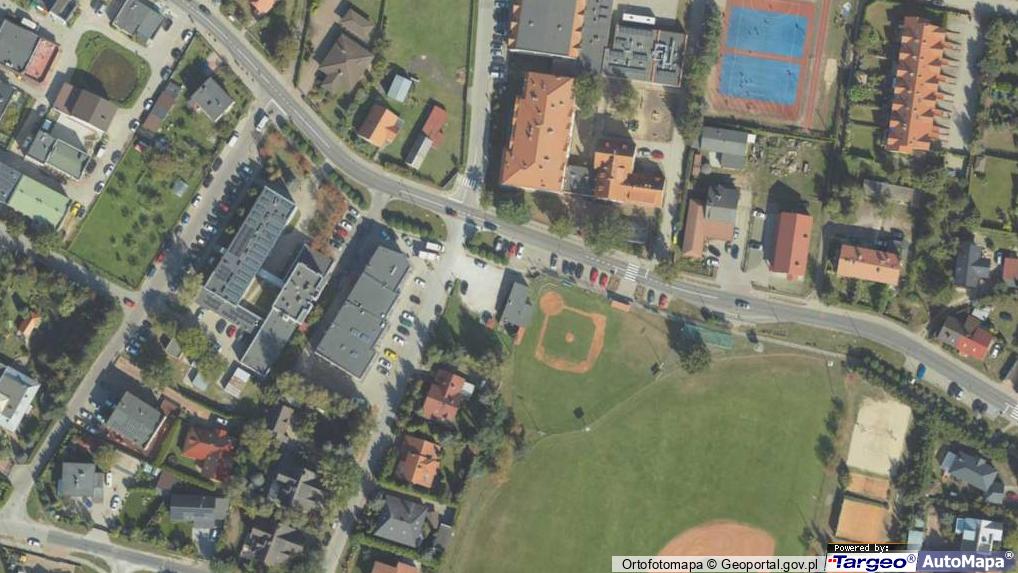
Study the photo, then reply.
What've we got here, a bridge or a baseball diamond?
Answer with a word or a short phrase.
baseball diamond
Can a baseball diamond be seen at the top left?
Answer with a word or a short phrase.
No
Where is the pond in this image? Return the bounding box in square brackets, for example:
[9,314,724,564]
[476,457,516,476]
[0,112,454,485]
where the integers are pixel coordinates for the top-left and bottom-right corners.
[91,49,138,98]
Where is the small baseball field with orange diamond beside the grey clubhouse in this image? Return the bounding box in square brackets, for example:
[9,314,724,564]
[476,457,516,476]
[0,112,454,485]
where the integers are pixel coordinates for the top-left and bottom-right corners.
[501,285,845,468]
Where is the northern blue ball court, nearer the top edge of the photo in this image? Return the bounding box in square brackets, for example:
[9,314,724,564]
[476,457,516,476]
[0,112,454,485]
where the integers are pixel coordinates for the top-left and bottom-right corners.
[728,7,808,57]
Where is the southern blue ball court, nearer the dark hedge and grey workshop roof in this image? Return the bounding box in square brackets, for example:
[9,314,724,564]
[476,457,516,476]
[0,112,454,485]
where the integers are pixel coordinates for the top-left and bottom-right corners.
[720,54,800,104]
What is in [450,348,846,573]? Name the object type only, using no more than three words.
baseball field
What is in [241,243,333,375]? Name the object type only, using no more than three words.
building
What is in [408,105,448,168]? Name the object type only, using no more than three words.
shed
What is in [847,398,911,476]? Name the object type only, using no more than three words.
sports court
